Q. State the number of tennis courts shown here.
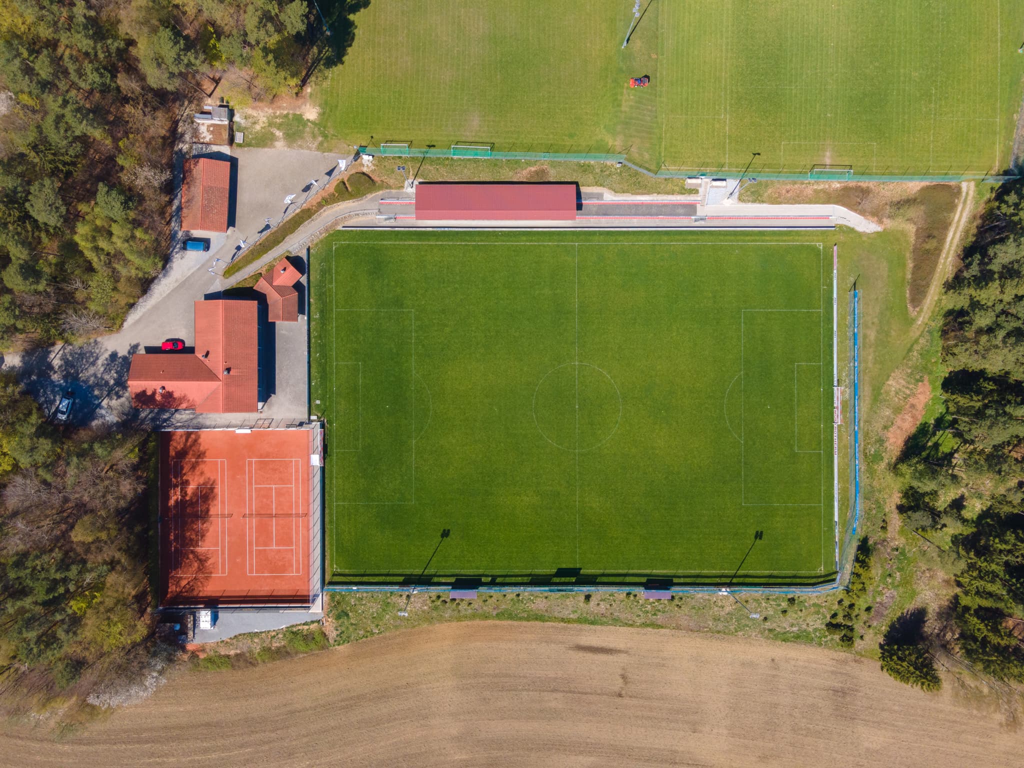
2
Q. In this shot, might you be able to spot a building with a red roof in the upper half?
Yes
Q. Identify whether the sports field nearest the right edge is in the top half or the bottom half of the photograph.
top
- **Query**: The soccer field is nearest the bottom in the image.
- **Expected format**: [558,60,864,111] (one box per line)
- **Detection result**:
[310,230,834,585]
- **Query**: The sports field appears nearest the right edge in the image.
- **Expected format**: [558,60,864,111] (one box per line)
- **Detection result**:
[663,0,1024,175]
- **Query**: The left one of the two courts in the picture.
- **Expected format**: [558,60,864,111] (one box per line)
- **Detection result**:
[159,431,237,607]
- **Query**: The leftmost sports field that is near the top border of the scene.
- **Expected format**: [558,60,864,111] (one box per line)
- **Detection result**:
[326,0,623,154]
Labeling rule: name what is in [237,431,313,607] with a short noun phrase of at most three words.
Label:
tennis court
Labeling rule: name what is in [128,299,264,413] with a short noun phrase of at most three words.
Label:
building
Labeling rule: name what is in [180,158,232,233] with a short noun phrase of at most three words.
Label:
building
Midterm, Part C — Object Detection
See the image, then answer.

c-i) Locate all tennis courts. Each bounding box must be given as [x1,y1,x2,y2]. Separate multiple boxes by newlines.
[159,431,237,607]
[237,431,313,607]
